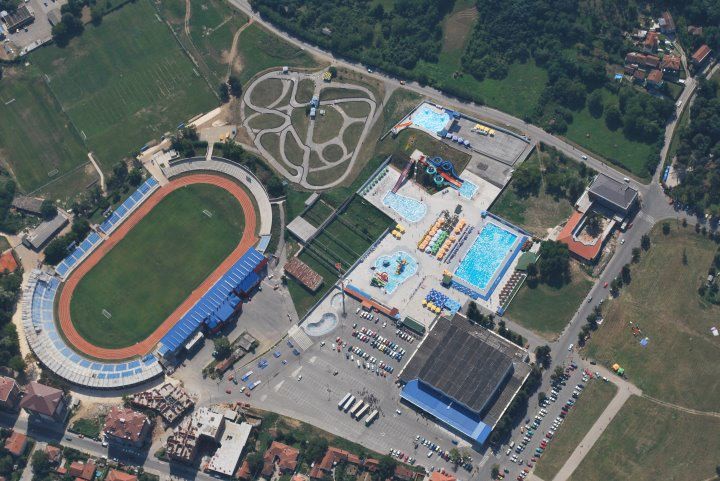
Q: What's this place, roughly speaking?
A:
sports ground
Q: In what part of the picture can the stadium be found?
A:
left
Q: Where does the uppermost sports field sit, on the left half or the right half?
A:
left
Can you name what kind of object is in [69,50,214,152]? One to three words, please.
sports field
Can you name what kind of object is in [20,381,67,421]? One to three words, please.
house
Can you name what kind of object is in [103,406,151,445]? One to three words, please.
building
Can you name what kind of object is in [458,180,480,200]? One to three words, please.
swimming pool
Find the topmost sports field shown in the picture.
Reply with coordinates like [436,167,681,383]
[37,4,170,98]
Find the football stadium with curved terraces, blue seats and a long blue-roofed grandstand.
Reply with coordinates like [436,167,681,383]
[24,155,273,391]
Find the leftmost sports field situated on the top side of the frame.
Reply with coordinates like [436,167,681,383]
[0,84,79,194]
